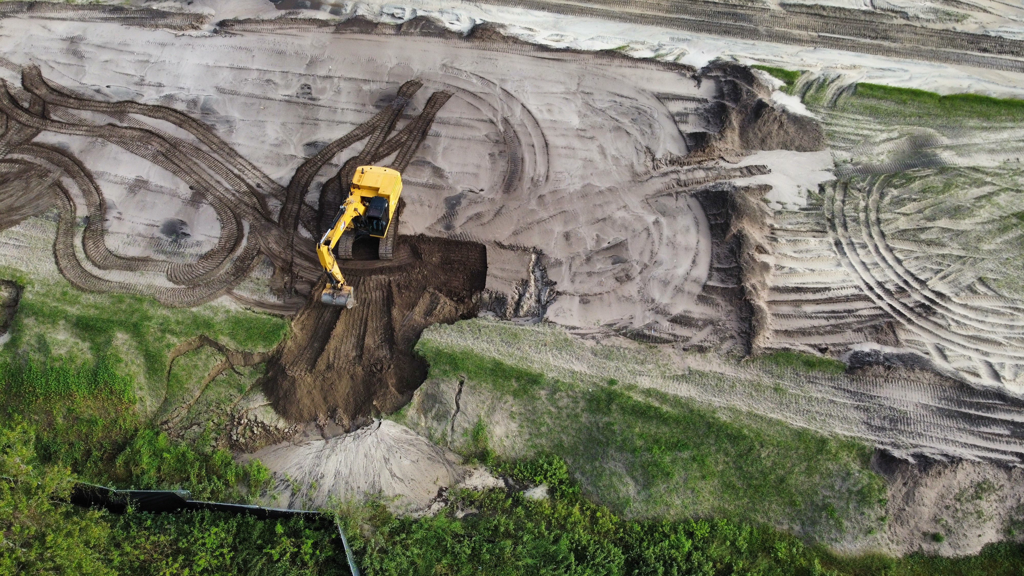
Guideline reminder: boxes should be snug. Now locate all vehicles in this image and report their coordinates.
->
[315,165,403,312]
